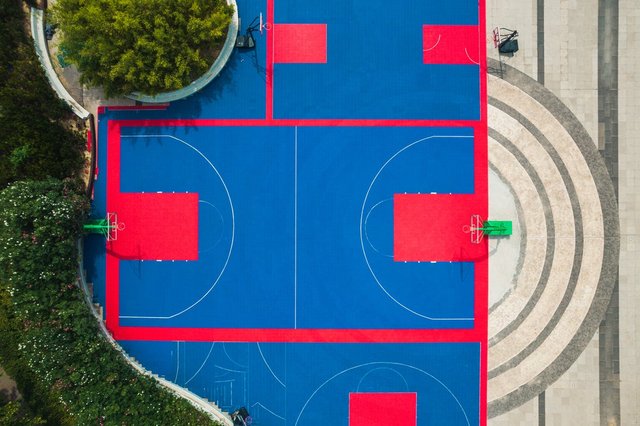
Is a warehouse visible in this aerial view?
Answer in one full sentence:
No, the picture doesn't show any warehouse.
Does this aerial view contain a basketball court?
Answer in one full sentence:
Yes, I can see a basketball court in this picture.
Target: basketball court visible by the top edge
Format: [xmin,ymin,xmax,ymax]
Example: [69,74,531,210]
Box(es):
[267,0,488,120]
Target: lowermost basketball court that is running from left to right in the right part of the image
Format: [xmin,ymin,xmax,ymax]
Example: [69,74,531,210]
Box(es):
[286,341,488,426]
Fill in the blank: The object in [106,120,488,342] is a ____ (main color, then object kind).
blue basketball court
